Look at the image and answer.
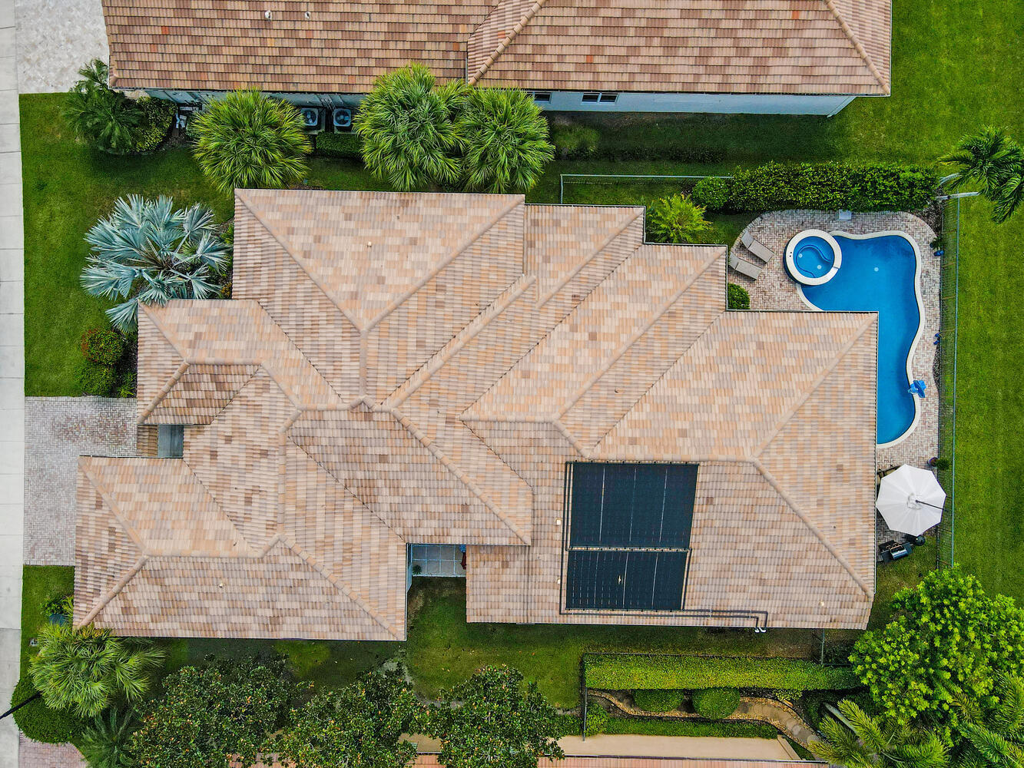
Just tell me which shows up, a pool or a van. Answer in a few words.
pool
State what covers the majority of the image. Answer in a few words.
buildings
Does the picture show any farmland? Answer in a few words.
No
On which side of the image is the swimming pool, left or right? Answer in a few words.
right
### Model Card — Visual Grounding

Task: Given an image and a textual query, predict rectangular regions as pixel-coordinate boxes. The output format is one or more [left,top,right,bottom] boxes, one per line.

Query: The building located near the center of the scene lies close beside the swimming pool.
[73,186,882,643]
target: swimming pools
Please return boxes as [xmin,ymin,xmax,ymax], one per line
[799,228,927,449]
